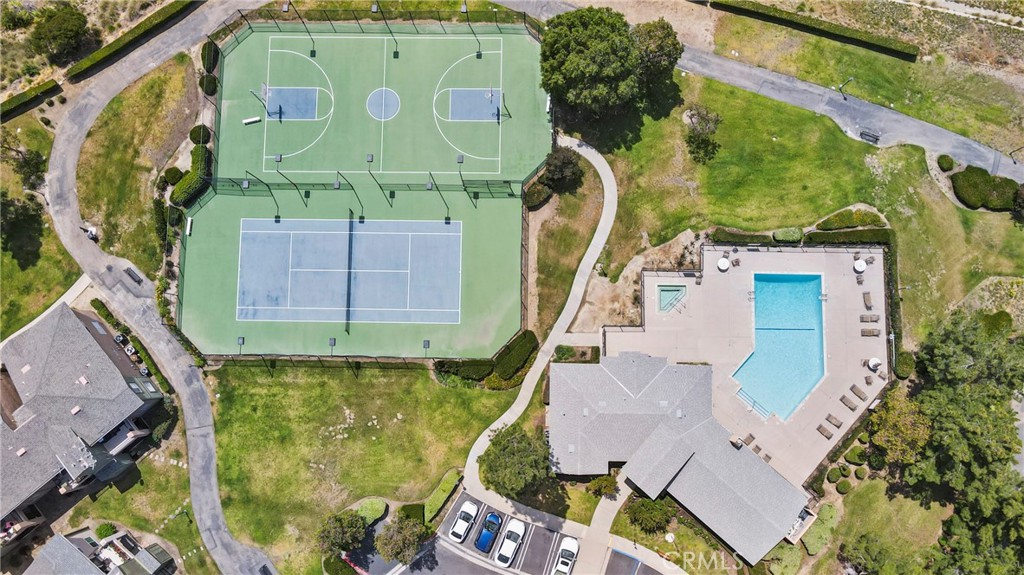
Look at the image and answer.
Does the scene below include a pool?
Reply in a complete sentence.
Yes, the photo shows a pool.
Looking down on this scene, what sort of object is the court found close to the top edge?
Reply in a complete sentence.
From above, the court found close to the top edge can be identified as a basketball court.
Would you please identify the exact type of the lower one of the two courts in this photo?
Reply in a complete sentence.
From above, the lower one of the two courts can be identified as a tennis court.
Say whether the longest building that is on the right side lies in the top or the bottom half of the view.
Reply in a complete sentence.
You can find the longest building that is on the right side in the bottom half.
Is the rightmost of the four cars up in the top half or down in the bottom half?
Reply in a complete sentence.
It is in the bottom half that the rightmost of the four cars appears.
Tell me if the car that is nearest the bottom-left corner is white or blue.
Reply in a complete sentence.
In this view, the car that is nearest the bottom-left corner is white.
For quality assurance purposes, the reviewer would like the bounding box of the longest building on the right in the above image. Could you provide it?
[549,351,824,566]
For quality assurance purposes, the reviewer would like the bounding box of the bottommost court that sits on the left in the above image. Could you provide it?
[177,181,523,357]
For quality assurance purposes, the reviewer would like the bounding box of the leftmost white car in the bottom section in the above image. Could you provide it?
[448,498,477,546]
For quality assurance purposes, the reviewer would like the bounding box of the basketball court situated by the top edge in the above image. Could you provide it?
[215,22,551,183]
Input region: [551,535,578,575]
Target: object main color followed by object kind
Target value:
white car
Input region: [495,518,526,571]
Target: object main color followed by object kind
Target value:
white car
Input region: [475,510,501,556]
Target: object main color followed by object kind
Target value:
blue car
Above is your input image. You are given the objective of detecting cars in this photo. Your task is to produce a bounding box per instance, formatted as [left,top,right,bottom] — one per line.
[495,518,526,571]
[551,535,578,575]
[475,510,501,556]
[448,498,477,546]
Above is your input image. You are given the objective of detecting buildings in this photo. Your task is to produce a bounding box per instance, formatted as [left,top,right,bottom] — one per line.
[0,301,165,562]
[549,351,824,566]
[24,520,184,575]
